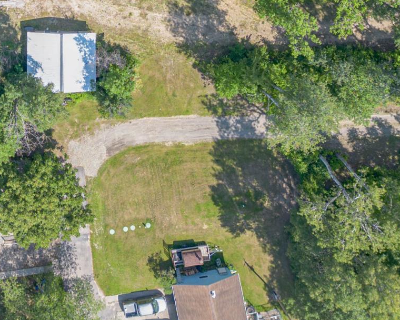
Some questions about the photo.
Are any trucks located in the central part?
No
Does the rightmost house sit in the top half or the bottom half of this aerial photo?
bottom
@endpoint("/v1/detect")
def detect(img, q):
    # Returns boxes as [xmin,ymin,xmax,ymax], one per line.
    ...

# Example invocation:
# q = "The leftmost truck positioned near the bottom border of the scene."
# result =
[123,294,167,319]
